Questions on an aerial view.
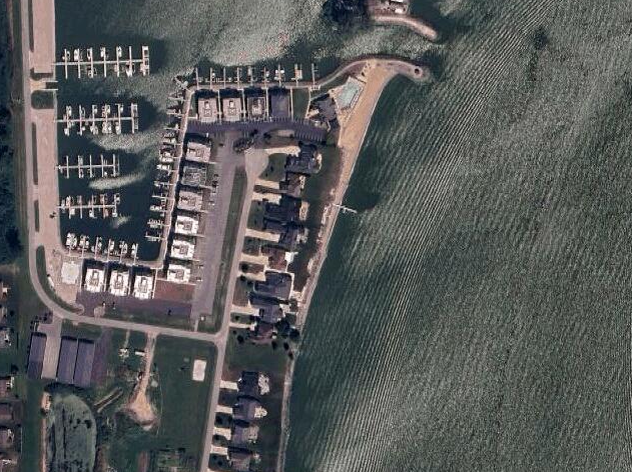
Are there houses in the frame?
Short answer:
Yes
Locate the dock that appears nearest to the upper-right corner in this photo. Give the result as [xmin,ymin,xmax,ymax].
[373,16,437,37]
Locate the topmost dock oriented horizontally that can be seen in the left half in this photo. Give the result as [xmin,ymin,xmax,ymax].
[57,47,150,78]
